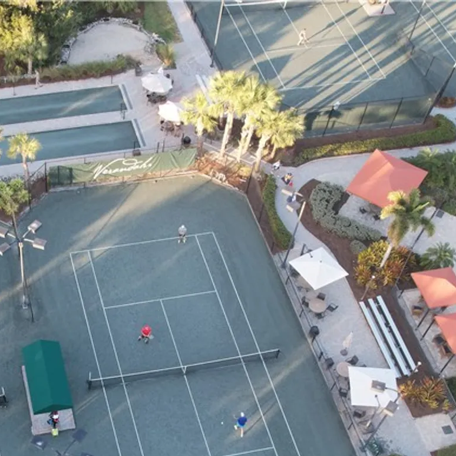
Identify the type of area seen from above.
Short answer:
sports ground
